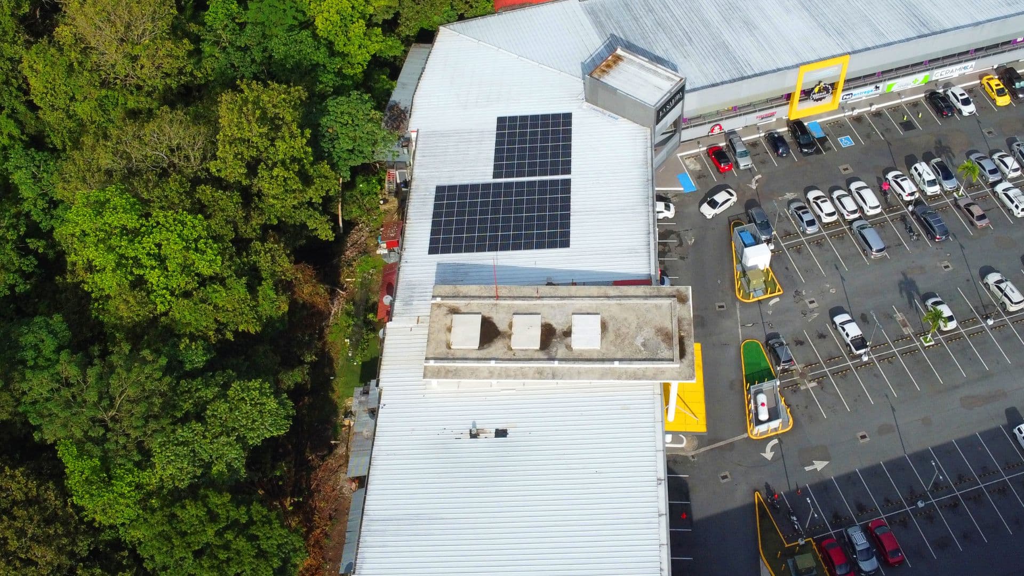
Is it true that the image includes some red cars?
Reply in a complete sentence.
Yes, there's a red car down there.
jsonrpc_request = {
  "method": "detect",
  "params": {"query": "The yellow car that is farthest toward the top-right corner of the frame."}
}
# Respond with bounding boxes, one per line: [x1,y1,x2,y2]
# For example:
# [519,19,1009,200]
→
[981,78,1011,106]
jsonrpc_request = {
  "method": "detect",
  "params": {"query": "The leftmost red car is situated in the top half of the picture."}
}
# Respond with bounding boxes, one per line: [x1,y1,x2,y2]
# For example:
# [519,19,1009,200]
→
[708,148,734,175]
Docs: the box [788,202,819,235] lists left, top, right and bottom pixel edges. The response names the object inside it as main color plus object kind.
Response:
gray car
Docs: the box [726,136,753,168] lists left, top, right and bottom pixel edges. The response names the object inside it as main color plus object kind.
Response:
gray car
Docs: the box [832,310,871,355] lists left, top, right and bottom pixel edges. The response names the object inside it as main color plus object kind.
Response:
white truck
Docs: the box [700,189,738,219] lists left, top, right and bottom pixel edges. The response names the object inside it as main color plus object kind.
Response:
white car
